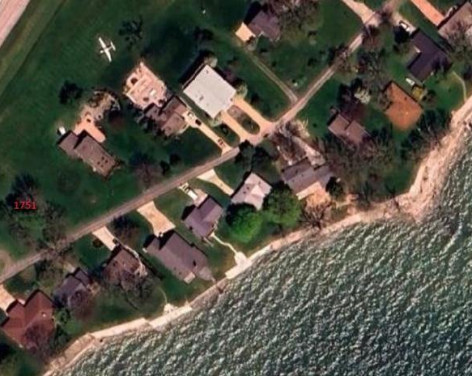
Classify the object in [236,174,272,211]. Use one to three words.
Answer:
house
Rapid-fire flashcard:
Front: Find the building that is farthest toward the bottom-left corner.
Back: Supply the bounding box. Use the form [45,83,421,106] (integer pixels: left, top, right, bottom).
[2,294,59,350]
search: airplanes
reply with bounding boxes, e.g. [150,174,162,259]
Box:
[98,38,115,60]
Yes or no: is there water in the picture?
Yes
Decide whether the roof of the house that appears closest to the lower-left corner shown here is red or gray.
red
